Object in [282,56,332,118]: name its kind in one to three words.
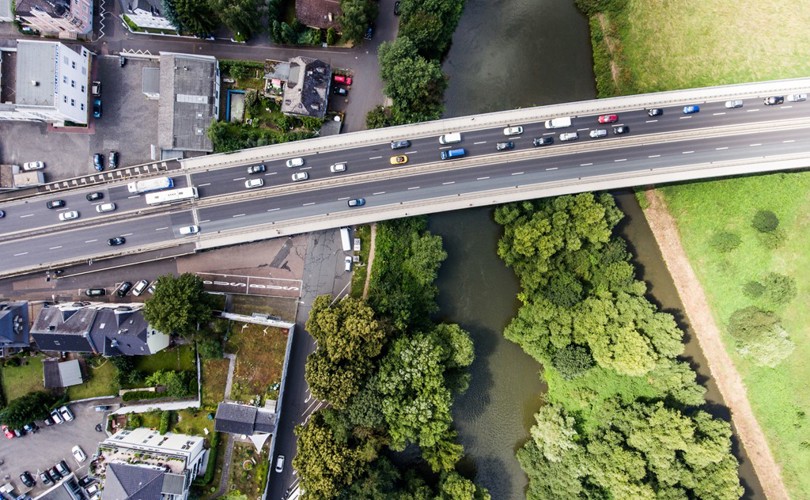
house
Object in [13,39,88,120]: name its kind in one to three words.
building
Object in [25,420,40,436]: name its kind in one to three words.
car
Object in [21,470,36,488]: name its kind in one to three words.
car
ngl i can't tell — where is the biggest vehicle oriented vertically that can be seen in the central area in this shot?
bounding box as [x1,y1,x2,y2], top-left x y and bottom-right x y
[339,226,352,252]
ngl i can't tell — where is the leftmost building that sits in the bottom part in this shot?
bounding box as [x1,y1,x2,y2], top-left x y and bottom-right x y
[0,301,39,347]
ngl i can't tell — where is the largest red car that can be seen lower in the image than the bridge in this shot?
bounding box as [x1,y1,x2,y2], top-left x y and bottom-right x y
[2,423,16,440]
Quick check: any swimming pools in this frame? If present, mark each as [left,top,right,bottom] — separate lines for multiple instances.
[225,89,246,122]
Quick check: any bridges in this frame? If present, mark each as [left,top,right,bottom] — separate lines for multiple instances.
[0,76,810,279]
